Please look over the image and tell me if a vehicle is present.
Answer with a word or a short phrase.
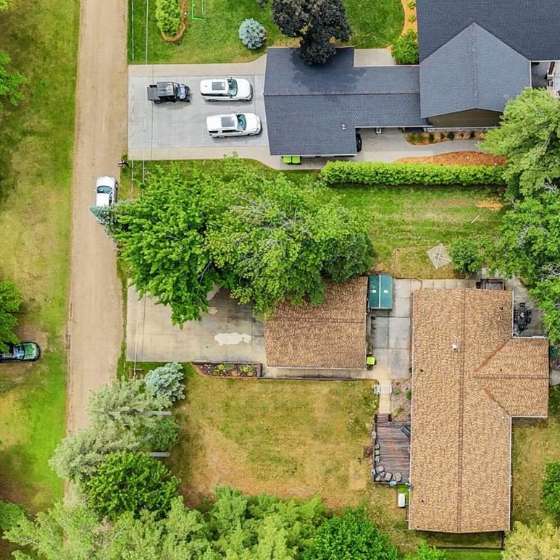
Yes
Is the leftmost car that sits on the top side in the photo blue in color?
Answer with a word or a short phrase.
No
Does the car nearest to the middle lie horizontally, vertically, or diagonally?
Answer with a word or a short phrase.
horizontally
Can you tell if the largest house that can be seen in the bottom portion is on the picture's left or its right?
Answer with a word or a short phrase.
right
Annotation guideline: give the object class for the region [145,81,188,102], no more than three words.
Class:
vehicle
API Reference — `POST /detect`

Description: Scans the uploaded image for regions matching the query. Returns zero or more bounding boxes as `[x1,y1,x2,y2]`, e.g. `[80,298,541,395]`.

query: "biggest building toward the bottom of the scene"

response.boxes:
[406,286,550,535]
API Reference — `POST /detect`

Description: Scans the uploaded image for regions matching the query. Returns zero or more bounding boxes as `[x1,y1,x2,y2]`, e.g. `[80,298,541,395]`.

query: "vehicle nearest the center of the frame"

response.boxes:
[207,111,260,136]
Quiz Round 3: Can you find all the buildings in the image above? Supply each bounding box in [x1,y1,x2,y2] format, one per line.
[260,278,368,370]
[406,286,550,535]
[369,274,394,309]
[264,0,560,158]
